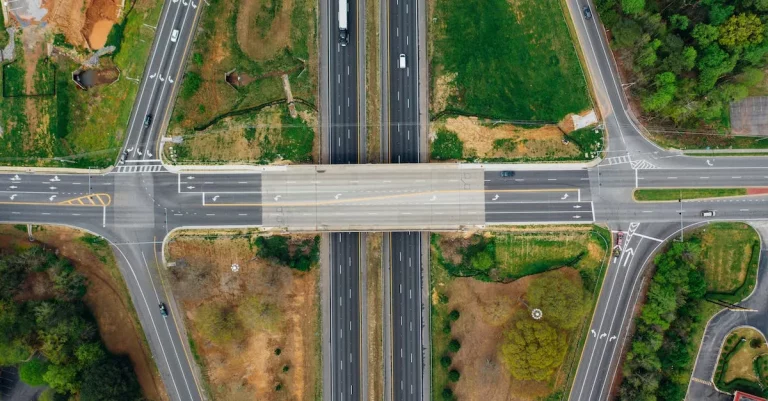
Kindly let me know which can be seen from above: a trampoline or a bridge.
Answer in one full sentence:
It is a bridge that can be seen here.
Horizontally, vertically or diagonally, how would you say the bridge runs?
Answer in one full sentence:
In this picture, the bridge lies horizontally.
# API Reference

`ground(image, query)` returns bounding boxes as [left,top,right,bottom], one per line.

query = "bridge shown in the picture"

[262,164,489,232]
